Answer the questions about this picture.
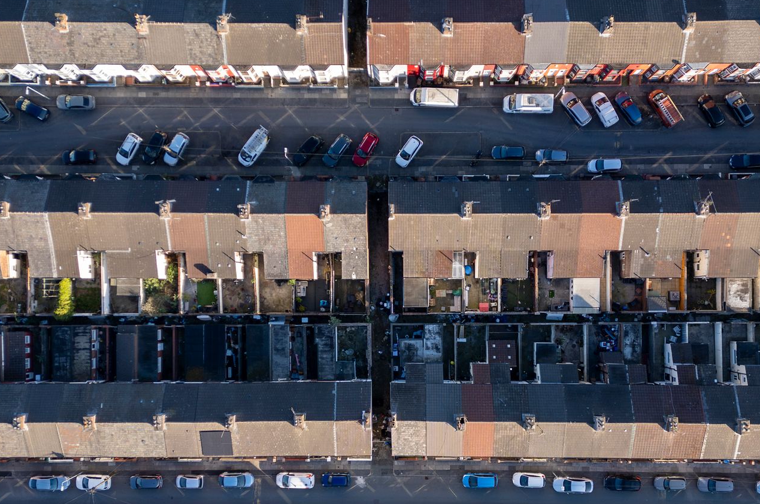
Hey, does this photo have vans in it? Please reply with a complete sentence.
Yes, a van is visible in the scene.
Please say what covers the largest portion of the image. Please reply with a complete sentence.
What you mostly see from above here is buildings.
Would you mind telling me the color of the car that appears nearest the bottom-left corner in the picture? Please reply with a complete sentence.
In this view, the car that appears nearest the bottom-left corner is blue.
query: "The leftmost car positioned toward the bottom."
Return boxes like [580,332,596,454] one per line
[27,474,71,494]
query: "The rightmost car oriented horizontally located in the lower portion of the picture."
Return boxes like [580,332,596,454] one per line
[696,476,736,495]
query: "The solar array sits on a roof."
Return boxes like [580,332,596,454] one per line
[200,431,232,456]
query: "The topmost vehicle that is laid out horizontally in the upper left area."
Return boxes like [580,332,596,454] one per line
[56,93,97,111]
